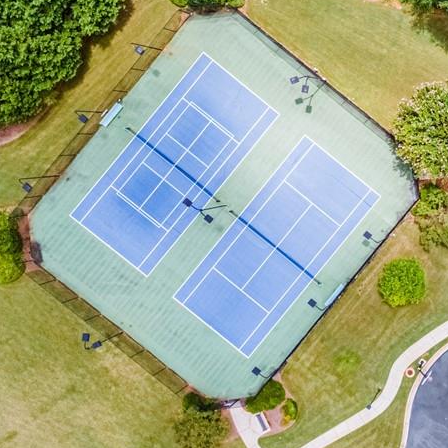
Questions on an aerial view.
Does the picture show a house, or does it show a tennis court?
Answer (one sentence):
Visible in the photo is a tennis court.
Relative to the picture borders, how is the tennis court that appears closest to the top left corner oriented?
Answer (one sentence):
The tennis court that appears closest to the top left corner runs on a diagonal in the image.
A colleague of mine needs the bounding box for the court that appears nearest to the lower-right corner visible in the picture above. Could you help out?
[174,135,381,359]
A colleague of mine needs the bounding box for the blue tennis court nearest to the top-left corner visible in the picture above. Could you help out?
[70,51,280,278]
